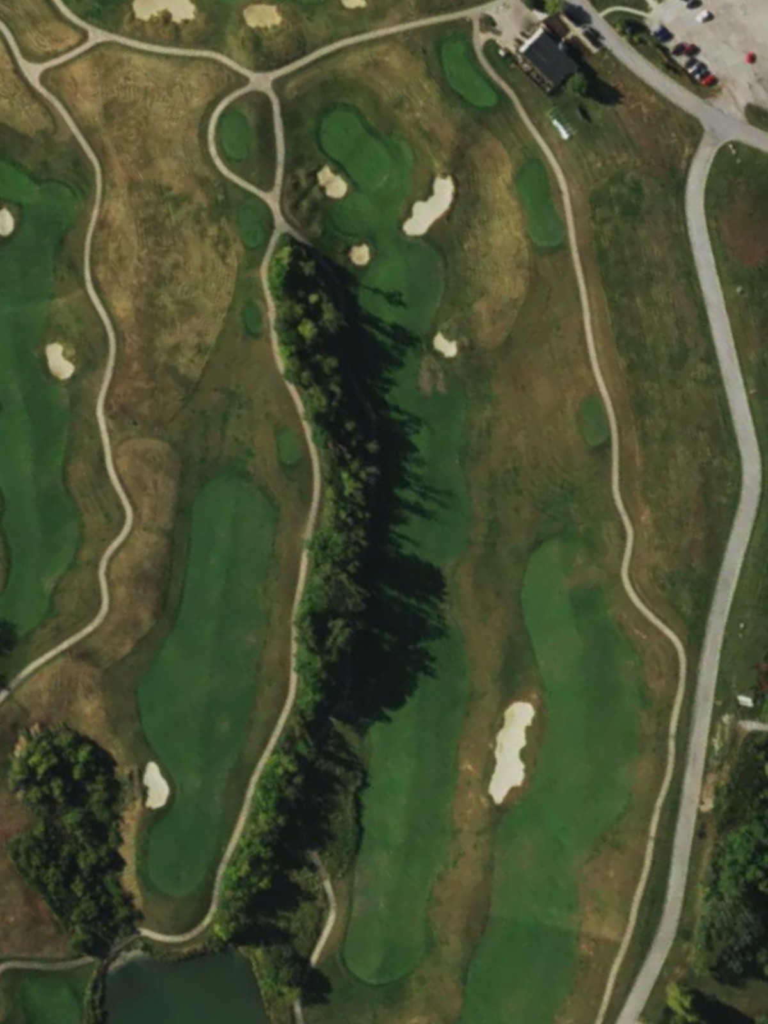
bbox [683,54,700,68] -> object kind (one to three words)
car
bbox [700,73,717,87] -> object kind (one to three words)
car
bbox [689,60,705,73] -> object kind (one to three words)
vehicle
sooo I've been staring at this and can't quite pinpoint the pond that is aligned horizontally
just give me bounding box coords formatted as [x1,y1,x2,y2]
[101,944,266,1024]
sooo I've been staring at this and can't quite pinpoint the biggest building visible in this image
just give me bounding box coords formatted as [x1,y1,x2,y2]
[516,23,581,95]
